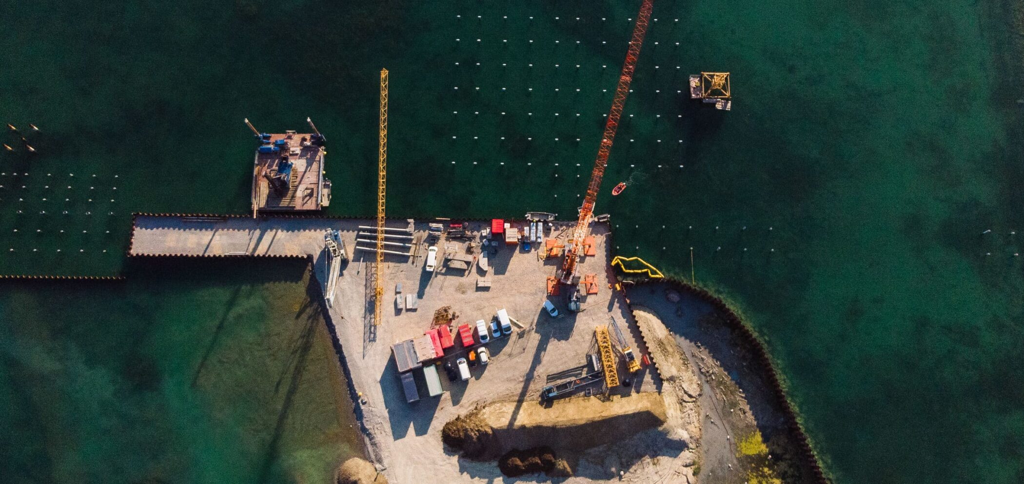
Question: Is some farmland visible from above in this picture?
No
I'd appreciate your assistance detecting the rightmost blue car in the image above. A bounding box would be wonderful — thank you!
[542,299,559,318]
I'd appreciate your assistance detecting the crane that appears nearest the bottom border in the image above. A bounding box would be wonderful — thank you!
[605,316,641,373]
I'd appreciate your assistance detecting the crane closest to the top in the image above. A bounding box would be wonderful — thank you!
[550,0,657,312]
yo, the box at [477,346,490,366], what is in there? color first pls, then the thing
white vehicle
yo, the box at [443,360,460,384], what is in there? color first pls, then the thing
black vehicle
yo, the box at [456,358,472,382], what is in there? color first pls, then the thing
white vehicle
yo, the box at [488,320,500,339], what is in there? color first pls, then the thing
blue vehicle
